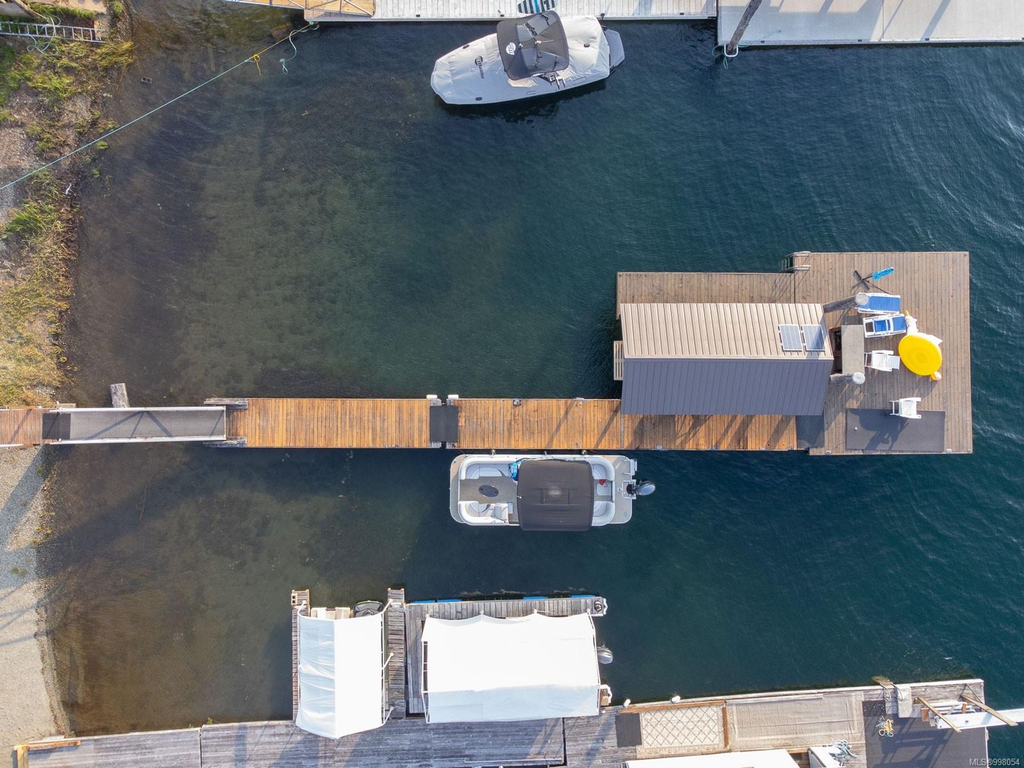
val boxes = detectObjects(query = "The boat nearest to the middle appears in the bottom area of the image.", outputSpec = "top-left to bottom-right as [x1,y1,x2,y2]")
[449,454,656,530]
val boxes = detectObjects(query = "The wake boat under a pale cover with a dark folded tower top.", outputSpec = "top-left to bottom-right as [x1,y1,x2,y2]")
[431,11,625,109]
